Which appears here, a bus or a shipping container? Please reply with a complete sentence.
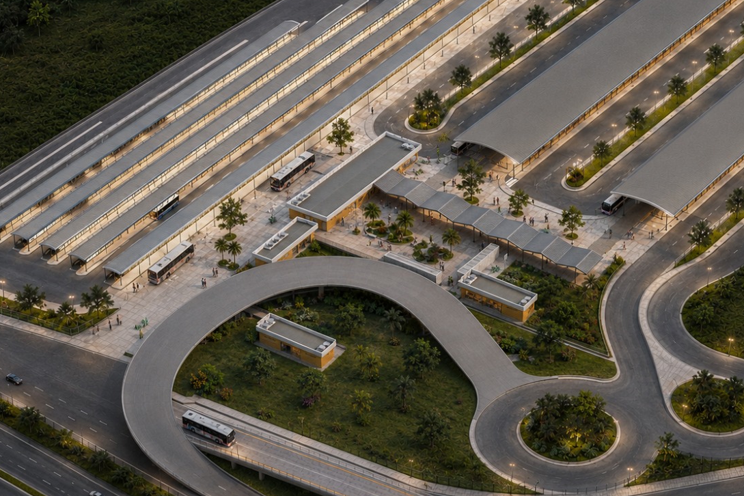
Visible in the photo is a bus.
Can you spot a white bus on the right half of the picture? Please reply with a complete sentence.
No, looking on the right half of the picture, there is no white bus.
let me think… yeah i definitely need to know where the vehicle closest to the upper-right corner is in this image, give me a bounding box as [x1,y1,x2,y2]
[601,193,631,214]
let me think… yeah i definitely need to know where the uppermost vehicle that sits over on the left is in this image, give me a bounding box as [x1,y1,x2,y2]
[270,152,313,189]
